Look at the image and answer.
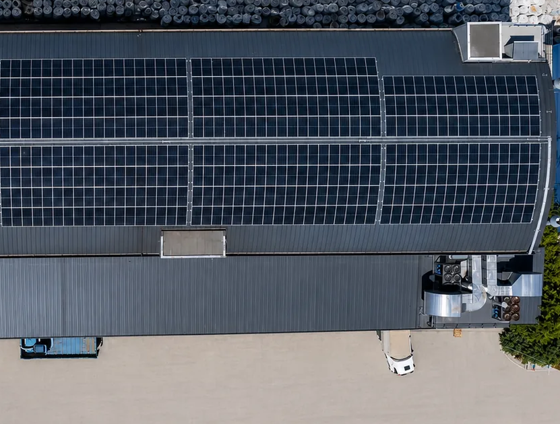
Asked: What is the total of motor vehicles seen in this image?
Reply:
2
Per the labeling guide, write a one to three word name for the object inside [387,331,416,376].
truck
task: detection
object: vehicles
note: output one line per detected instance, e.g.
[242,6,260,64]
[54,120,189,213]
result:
[387,331,416,376]
[20,338,97,359]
